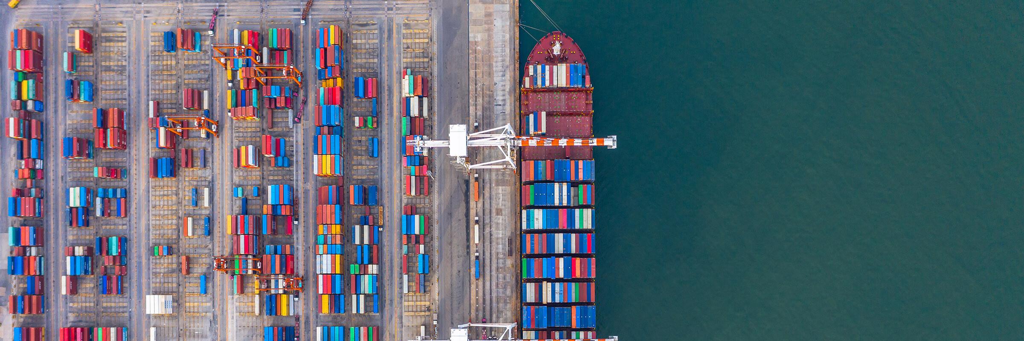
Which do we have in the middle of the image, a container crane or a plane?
container crane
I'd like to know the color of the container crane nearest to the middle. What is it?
white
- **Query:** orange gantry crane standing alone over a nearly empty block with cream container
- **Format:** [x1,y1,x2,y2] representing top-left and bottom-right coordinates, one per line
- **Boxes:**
[166,115,218,137]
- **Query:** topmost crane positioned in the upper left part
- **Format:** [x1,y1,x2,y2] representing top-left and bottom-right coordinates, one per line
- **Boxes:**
[212,43,262,68]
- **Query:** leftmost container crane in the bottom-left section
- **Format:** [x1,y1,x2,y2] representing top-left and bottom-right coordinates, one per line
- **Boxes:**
[212,254,262,274]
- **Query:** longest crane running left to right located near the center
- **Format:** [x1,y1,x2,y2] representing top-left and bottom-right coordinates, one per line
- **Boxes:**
[406,124,616,176]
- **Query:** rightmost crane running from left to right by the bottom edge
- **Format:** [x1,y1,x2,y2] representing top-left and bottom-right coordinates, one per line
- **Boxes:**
[416,314,617,341]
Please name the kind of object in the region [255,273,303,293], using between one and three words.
container crane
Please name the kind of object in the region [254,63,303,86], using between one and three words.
container crane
